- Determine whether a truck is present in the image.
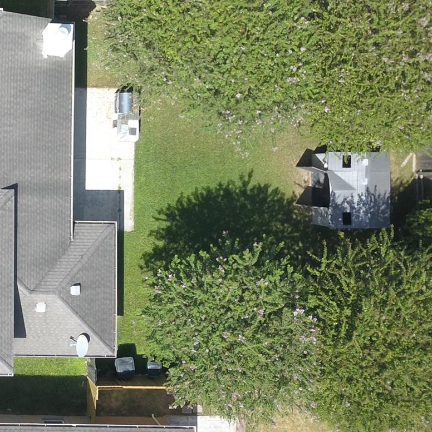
No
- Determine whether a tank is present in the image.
No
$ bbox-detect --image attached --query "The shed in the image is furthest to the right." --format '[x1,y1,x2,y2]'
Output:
[296,150,390,229]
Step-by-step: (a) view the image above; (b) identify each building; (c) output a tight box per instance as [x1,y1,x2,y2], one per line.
[296,150,390,229]
[0,405,199,432]
[0,6,119,377]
